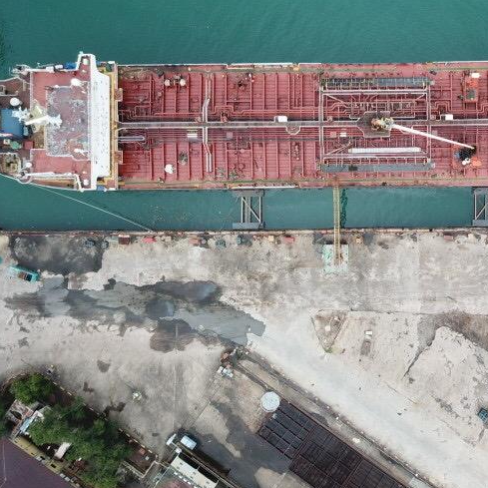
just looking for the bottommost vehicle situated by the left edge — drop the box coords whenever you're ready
[6,264,37,284]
